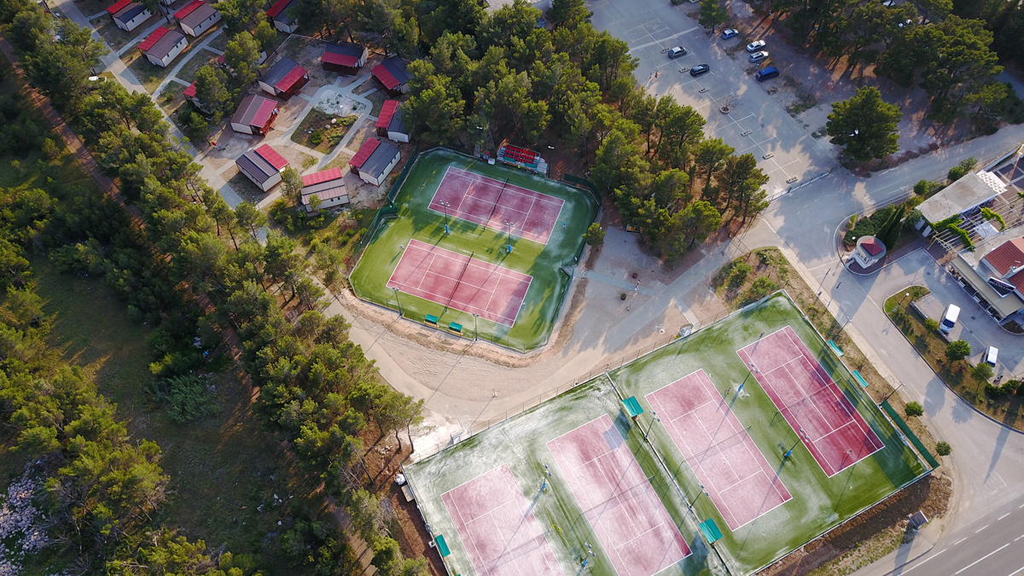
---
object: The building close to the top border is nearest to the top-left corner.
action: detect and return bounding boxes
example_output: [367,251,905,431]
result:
[106,0,156,28]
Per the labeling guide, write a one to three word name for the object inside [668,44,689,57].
vehicle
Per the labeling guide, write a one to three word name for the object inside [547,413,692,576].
tennis court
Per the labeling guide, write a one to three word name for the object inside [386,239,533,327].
tennis court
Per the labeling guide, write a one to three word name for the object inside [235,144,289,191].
building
